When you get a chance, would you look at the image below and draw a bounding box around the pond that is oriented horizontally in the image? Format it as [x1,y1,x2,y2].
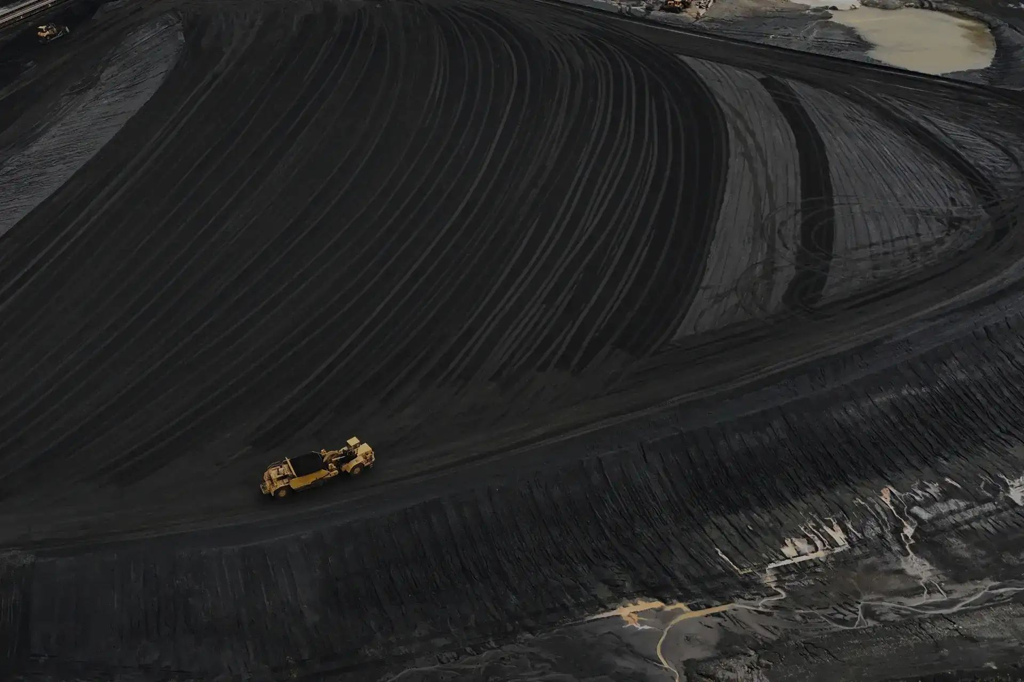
[796,0,1000,77]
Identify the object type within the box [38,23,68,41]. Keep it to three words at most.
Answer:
work vehicle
